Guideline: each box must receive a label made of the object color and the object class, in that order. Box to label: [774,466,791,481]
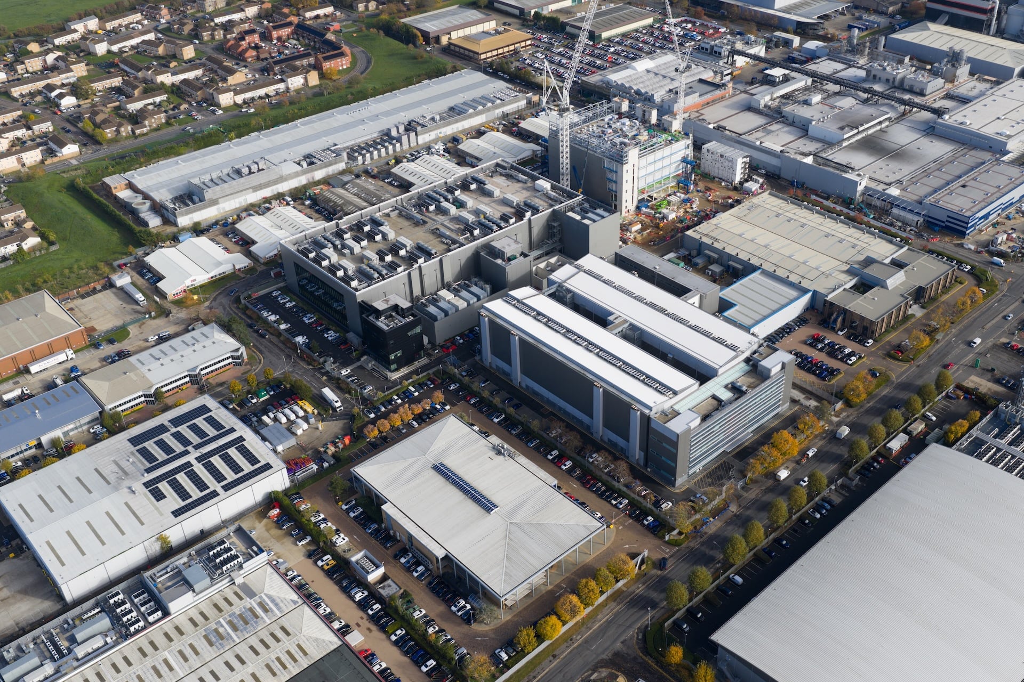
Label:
white vehicle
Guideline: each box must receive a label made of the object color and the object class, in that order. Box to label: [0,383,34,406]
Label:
white truck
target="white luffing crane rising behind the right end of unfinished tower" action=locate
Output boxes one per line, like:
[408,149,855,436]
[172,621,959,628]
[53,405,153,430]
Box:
[664,0,698,136]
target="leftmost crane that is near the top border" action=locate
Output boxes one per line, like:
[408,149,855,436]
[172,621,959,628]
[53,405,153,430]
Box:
[539,0,599,191]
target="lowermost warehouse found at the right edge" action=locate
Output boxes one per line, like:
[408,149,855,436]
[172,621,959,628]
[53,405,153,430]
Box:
[707,443,1024,682]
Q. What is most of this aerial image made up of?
buildings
